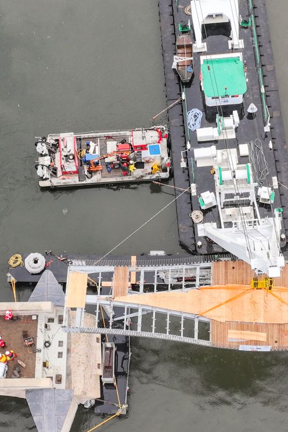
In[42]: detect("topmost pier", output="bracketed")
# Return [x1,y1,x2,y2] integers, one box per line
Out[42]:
[9,252,230,285]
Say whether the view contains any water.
Yes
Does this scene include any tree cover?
No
